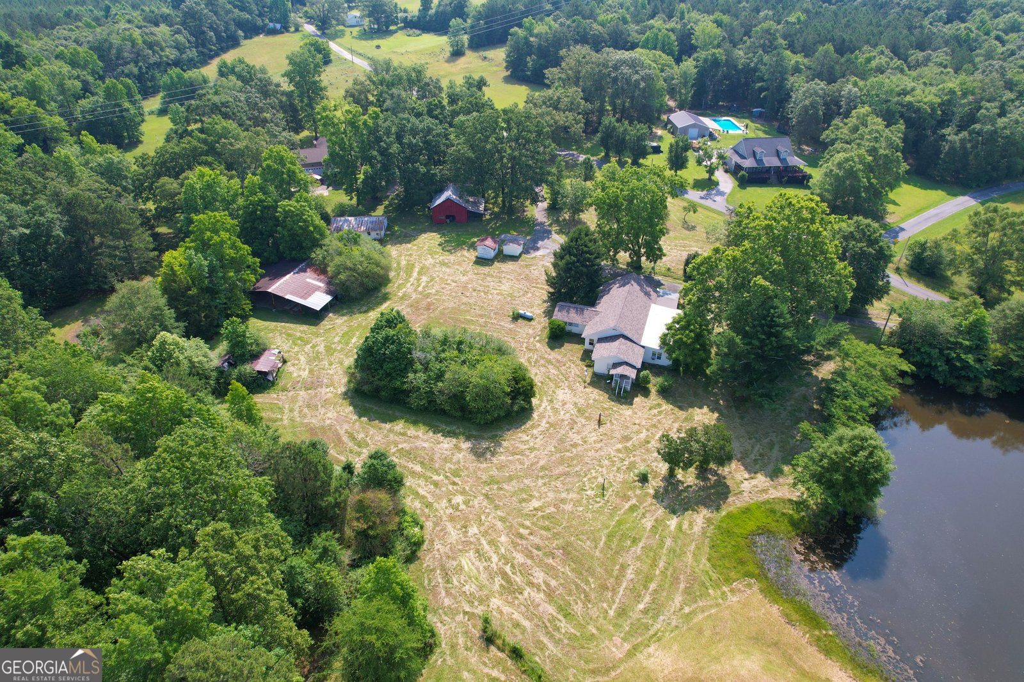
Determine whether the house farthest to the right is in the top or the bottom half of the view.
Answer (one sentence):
You can find the house farthest to the right in the top half.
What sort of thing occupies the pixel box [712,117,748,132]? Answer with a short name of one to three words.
swimming pool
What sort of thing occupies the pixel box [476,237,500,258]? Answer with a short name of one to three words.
shed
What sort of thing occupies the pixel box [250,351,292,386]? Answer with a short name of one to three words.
shed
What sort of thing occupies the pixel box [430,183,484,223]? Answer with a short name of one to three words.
barn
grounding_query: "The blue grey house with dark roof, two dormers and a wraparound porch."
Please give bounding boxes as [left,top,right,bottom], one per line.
[728,136,811,180]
